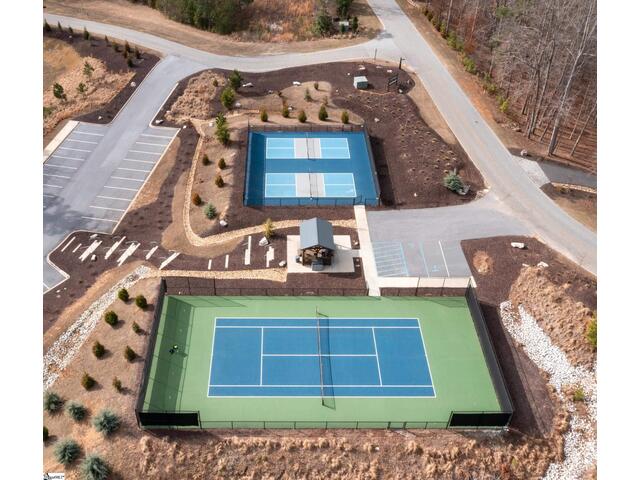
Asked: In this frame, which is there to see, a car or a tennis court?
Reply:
tennis court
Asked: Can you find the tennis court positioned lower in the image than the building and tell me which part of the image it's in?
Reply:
bottom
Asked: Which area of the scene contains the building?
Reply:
center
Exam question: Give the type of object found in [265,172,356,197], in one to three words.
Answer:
sports court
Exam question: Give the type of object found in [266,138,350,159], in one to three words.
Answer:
sports court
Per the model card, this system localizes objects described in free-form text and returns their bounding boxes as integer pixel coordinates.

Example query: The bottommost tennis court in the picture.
[139,295,507,429]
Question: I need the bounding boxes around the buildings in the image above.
[299,216,336,263]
